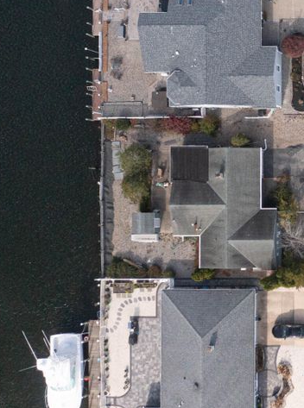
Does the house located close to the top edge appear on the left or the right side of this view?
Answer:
right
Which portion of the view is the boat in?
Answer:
bottom left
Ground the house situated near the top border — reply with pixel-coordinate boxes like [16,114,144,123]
[138,0,283,109]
